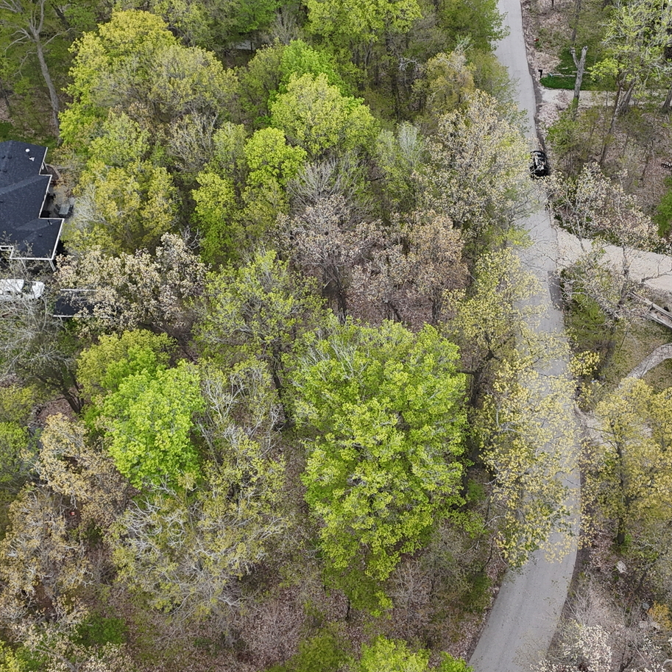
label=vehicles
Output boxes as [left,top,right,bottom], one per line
[532,144,551,174]
[0,275,44,298]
